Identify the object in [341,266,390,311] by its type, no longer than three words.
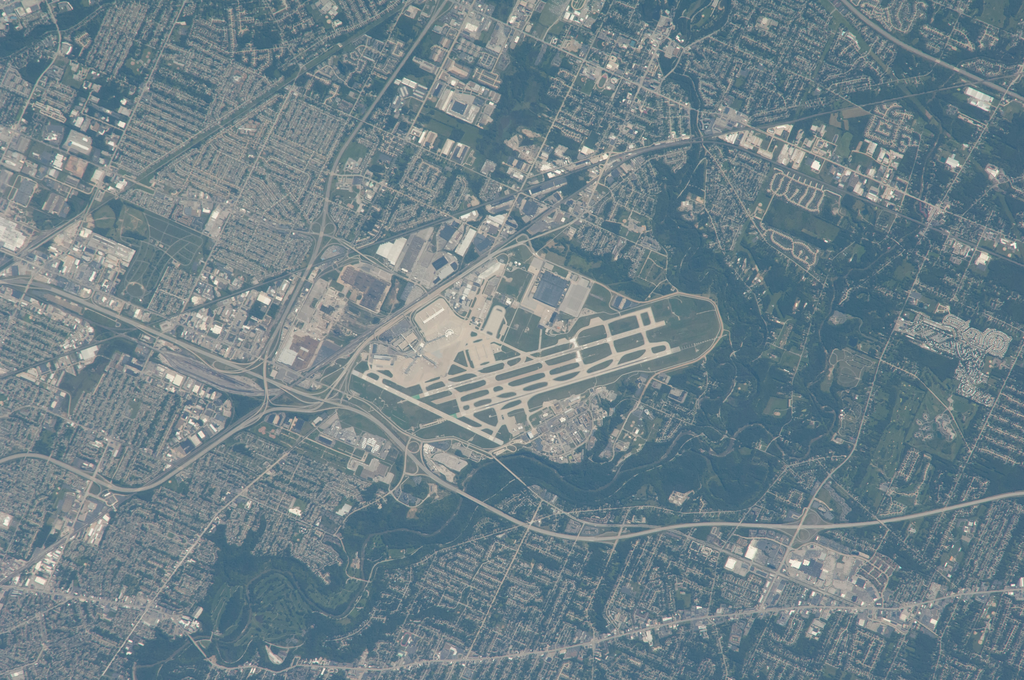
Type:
building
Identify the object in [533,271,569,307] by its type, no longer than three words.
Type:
building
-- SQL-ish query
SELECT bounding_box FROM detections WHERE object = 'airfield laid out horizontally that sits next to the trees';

[347,255,720,446]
